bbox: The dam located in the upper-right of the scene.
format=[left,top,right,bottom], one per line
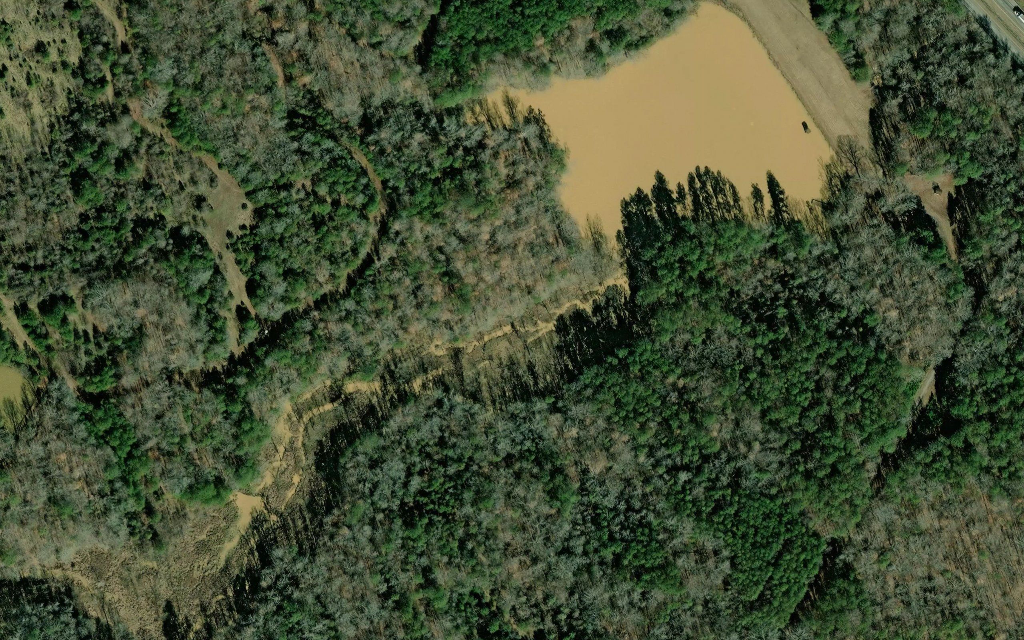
[713,0,875,178]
